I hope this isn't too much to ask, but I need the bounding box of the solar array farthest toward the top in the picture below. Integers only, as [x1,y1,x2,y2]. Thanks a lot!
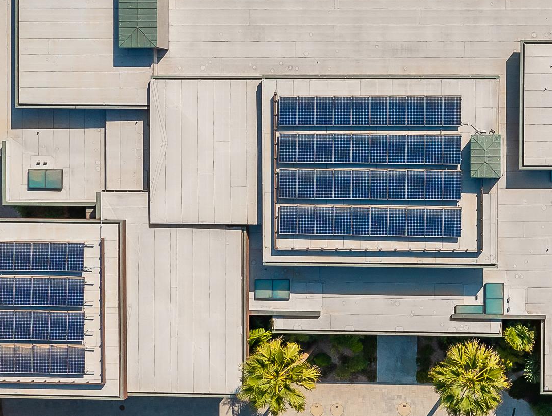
[279,96,461,125]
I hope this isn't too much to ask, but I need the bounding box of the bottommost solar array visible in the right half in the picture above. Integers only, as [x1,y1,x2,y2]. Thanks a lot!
[279,206,462,236]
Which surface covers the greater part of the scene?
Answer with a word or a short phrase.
buildings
